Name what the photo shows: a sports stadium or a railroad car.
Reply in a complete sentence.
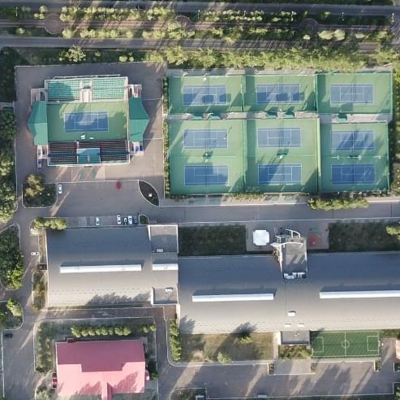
Looking from above, you can make out a sports stadium.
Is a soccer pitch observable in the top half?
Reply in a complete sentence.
No, no soccer pitch appears in the top half.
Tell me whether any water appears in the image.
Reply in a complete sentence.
No, there is no water in the image.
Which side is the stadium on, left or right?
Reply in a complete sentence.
The stadium sits on the left side.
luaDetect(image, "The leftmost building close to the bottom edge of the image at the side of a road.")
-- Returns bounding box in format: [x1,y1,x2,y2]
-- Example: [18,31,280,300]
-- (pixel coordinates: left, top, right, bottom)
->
[52,337,150,400]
